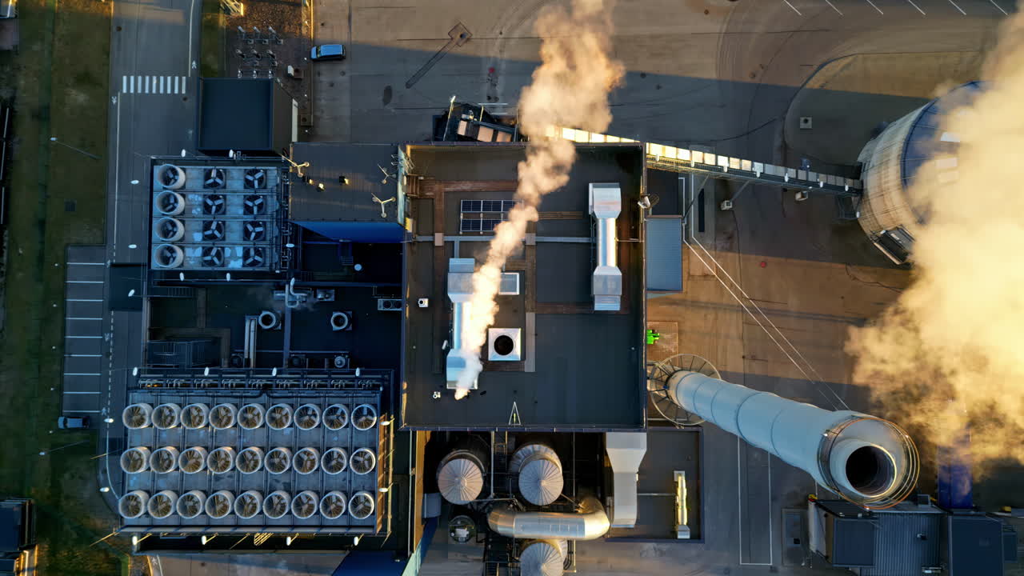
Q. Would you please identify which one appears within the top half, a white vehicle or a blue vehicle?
blue vehicle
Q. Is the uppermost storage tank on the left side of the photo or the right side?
right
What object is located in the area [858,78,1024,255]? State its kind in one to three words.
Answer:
storage tank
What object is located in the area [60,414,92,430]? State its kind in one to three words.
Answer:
car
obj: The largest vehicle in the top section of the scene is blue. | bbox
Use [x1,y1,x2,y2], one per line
[313,44,347,62]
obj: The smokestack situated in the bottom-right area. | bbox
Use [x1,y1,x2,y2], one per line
[668,369,911,511]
